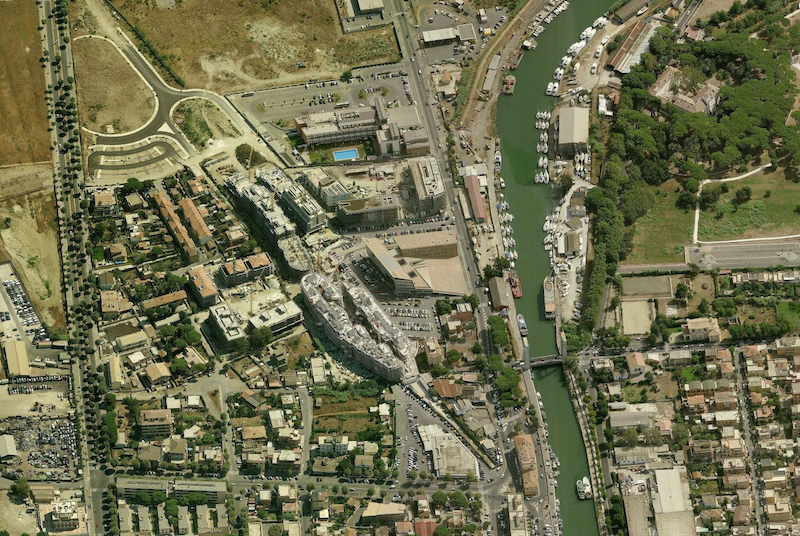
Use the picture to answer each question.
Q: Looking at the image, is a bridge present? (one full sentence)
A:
Yes, I can see a bridge in this picture.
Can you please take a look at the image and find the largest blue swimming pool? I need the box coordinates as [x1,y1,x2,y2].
[333,148,359,161]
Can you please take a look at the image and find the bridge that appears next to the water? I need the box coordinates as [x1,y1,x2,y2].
[520,331,568,370]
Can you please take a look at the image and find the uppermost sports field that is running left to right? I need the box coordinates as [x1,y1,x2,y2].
[620,274,673,298]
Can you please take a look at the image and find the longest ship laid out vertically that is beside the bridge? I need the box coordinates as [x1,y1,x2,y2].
[543,274,556,320]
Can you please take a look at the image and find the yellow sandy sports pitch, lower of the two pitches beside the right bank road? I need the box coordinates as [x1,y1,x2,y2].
[622,301,652,334]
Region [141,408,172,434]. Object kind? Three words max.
building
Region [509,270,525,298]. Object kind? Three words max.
boat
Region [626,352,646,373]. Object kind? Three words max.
house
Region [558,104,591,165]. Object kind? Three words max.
shed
